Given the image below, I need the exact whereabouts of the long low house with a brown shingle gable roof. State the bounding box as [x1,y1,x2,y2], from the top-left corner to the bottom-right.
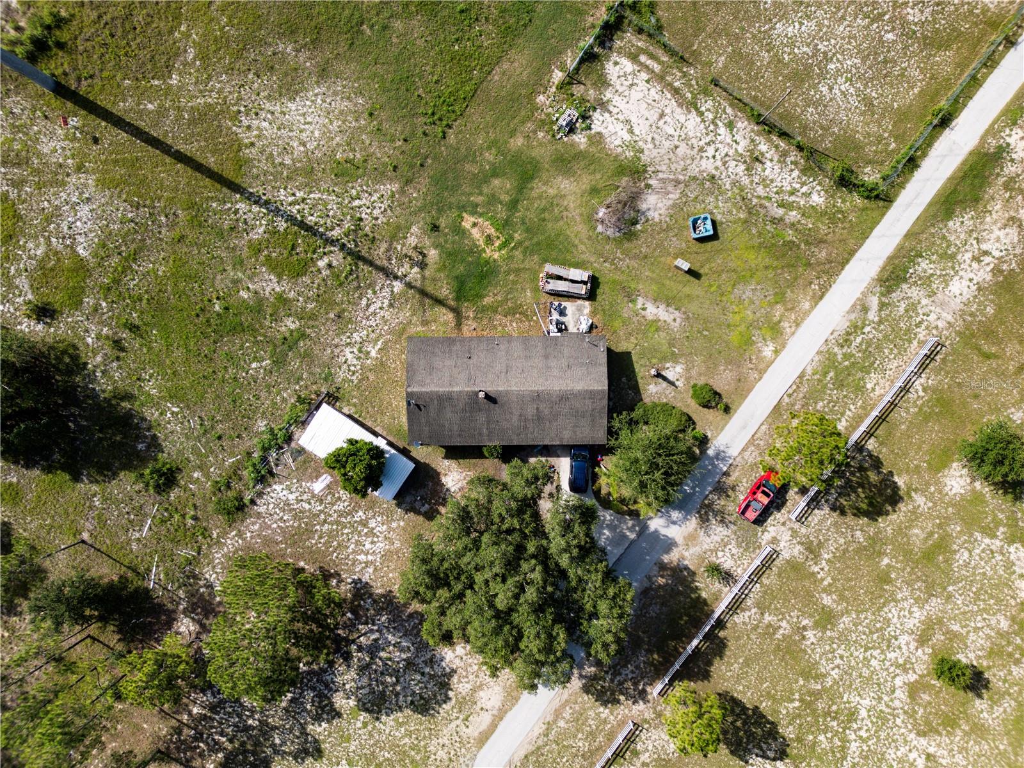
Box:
[404,332,609,448]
